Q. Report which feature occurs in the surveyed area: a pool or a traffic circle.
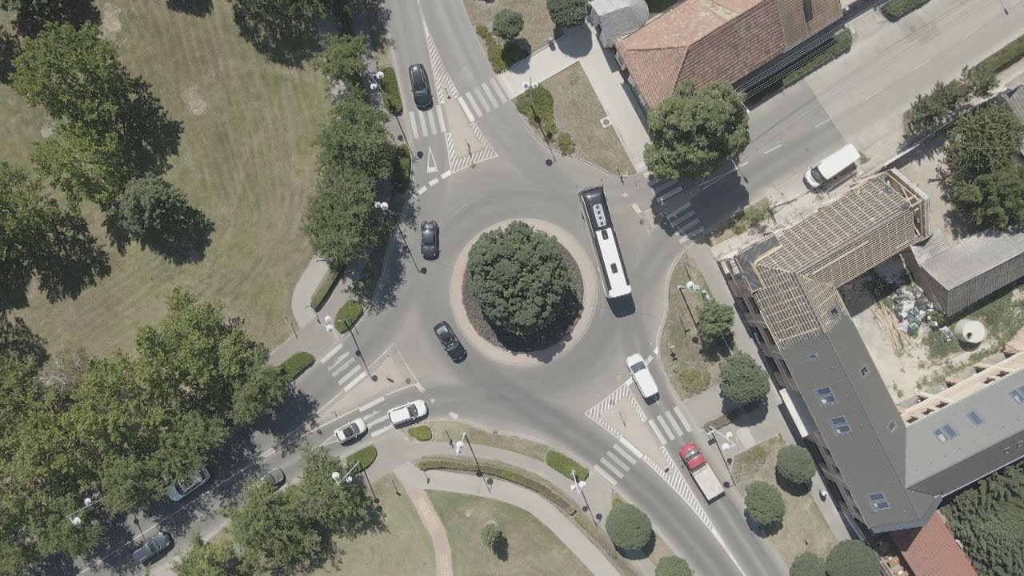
traffic circle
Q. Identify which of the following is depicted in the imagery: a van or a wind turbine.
van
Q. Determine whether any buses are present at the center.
Yes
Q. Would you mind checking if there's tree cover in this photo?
Yes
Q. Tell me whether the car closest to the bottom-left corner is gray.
Yes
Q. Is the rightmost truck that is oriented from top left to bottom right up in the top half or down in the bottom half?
bottom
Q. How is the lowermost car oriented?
at an angle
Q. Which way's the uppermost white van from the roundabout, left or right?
on the right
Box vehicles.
[129,529,175,567]
[169,466,213,502]
[432,319,468,364]
[802,141,866,186]
[573,178,631,301]
[408,62,434,113]
[626,352,661,401]
[419,219,440,260]
[386,397,430,427]
[680,444,725,501]
[332,416,370,445]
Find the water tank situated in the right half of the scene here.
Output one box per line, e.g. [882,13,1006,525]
[949,316,985,345]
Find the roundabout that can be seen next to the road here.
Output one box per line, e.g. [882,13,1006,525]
[387,156,661,430]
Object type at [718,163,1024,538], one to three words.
building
